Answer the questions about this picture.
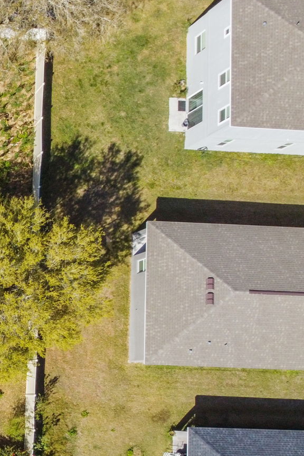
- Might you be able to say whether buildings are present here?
Yes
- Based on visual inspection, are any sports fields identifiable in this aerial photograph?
No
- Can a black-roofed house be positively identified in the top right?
No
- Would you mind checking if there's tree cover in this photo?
Yes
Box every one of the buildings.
[129,221,304,369]
[168,426,304,456]
[189,0,304,149]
